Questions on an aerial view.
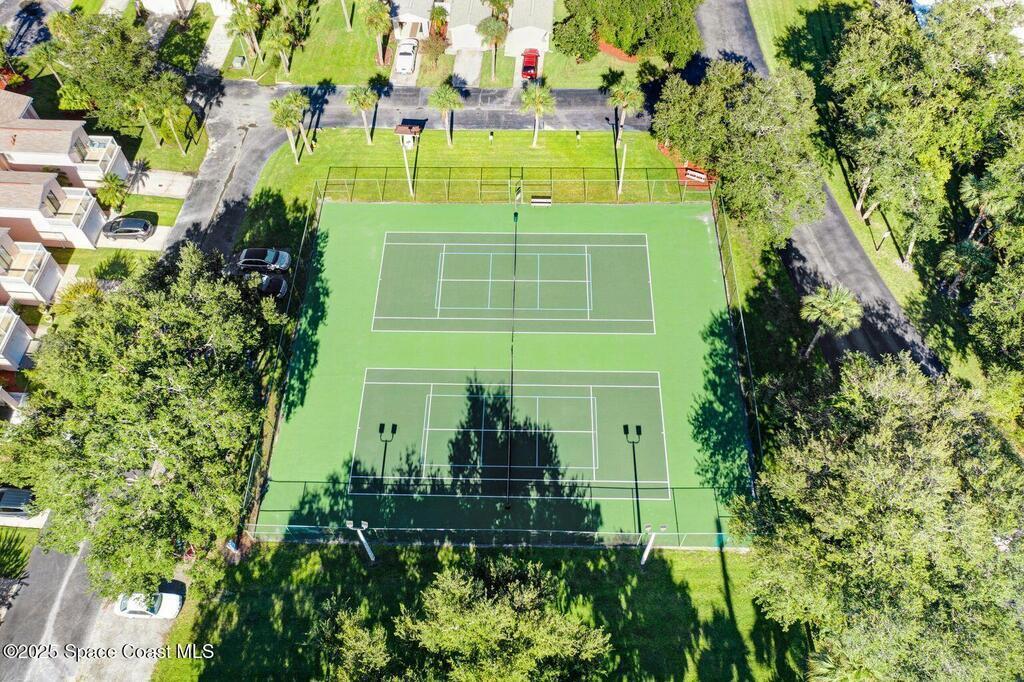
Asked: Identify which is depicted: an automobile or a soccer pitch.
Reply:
automobile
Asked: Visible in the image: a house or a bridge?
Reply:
house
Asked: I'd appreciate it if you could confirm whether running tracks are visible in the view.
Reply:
No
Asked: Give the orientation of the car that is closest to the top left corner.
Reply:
from left to right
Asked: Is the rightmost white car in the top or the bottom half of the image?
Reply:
top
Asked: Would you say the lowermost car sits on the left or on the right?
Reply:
left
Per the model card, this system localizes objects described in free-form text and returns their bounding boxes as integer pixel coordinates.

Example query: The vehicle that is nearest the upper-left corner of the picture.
[101,218,156,244]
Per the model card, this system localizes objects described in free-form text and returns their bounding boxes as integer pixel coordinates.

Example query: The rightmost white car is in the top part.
[393,41,416,74]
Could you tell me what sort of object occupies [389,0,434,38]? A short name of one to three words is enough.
house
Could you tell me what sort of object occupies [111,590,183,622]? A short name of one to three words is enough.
car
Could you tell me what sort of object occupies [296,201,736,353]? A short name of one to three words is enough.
tennis court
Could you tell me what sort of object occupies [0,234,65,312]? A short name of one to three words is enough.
house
